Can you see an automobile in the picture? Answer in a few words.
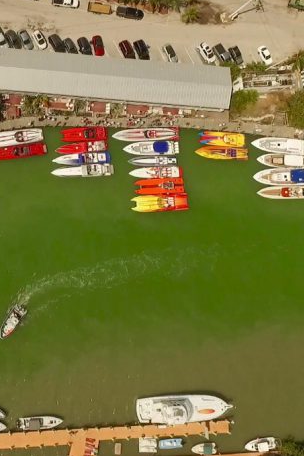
Yes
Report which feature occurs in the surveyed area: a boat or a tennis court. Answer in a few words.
boat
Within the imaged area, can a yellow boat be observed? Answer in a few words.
Yes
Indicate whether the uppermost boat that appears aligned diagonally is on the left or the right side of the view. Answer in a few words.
left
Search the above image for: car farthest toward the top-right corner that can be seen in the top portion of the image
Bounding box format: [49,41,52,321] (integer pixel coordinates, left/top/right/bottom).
[284,0,304,13]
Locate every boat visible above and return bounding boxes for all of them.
[128,165,185,177]
[158,438,189,451]
[255,154,304,168]
[0,143,49,160]
[16,416,64,431]
[243,436,285,453]
[127,155,180,166]
[122,139,181,155]
[249,137,304,155]
[51,151,113,165]
[133,176,186,192]
[60,127,109,142]
[134,394,233,434]
[255,185,304,199]
[251,167,304,186]
[0,306,25,339]
[55,140,109,154]
[193,146,250,160]
[197,130,248,147]
[0,128,46,149]
[50,163,115,177]
[111,127,181,140]
[189,441,218,456]
[129,193,191,212]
